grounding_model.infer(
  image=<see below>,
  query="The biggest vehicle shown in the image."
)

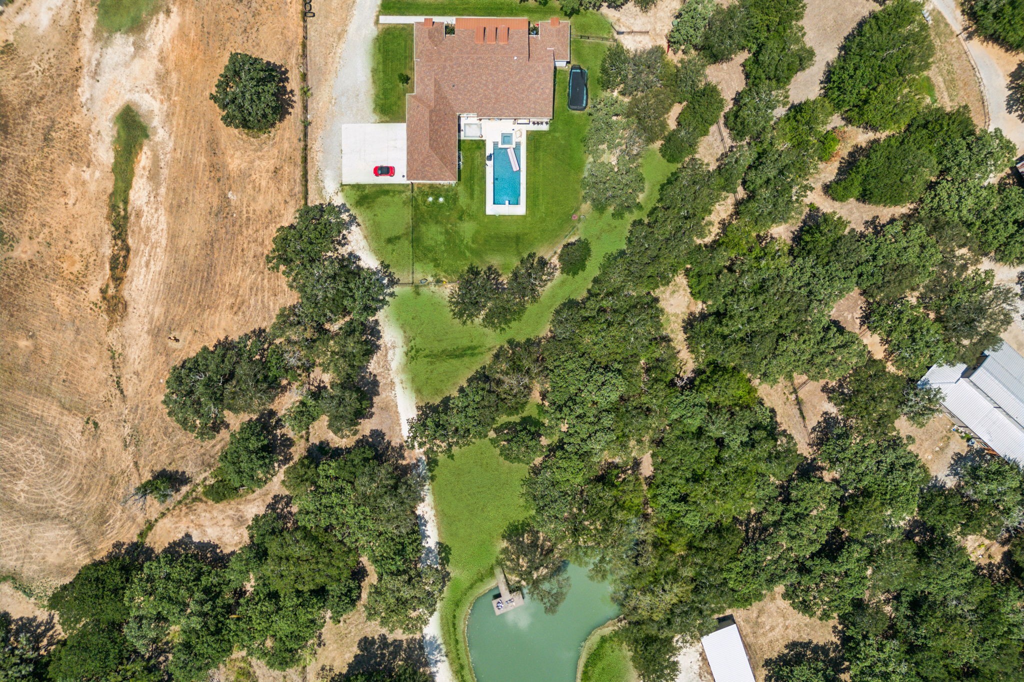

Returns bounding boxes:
[374,165,395,177]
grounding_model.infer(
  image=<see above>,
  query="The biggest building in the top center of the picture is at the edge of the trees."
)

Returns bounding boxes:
[406,16,571,183]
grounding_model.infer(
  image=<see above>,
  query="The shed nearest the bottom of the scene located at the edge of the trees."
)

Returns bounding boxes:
[696,616,756,682]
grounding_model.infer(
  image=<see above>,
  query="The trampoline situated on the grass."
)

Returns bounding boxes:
[569,65,589,111]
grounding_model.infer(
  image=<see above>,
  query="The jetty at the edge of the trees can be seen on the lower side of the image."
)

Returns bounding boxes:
[492,565,524,616]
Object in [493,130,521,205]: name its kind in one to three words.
swimming pool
